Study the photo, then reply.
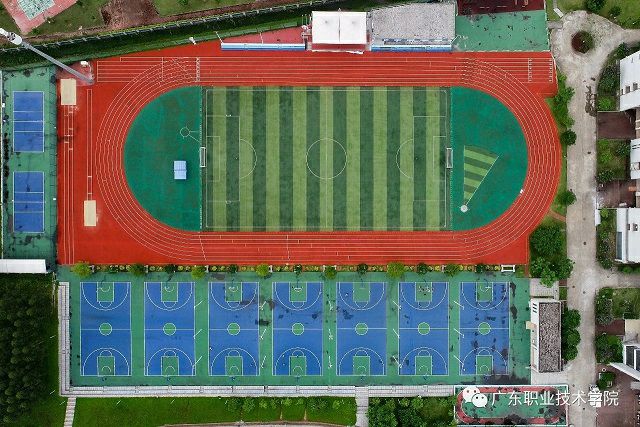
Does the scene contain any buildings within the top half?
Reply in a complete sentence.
Yes, you'll find a building within the top half.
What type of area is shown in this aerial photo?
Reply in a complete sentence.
It's a sports ground.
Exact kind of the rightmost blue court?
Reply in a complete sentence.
From above, the rightmost blue court can be identified as a basketball court.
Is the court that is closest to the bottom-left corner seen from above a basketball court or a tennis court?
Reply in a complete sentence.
It looks like the court that is closest to the bottom-left corner is a basketball court.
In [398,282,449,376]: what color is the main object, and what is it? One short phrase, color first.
blue basketball court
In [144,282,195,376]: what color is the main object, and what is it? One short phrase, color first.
blue basketball court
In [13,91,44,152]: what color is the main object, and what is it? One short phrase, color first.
blue sports court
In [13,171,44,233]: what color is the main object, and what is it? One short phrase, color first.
blue sports court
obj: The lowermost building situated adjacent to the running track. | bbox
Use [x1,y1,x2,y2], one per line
[527,297,562,373]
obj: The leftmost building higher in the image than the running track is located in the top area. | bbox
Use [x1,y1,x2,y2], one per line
[369,1,456,46]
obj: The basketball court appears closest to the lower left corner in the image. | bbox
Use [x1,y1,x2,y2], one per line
[80,282,131,376]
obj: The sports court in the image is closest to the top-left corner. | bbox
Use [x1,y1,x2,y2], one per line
[4,0,73,33]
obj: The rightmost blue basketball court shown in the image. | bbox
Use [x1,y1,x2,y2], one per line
[459,282,510,376]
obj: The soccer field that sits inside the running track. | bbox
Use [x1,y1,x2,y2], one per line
[201,86,452,231]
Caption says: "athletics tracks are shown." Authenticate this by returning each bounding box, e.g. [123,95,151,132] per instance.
[58,42,561,264]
